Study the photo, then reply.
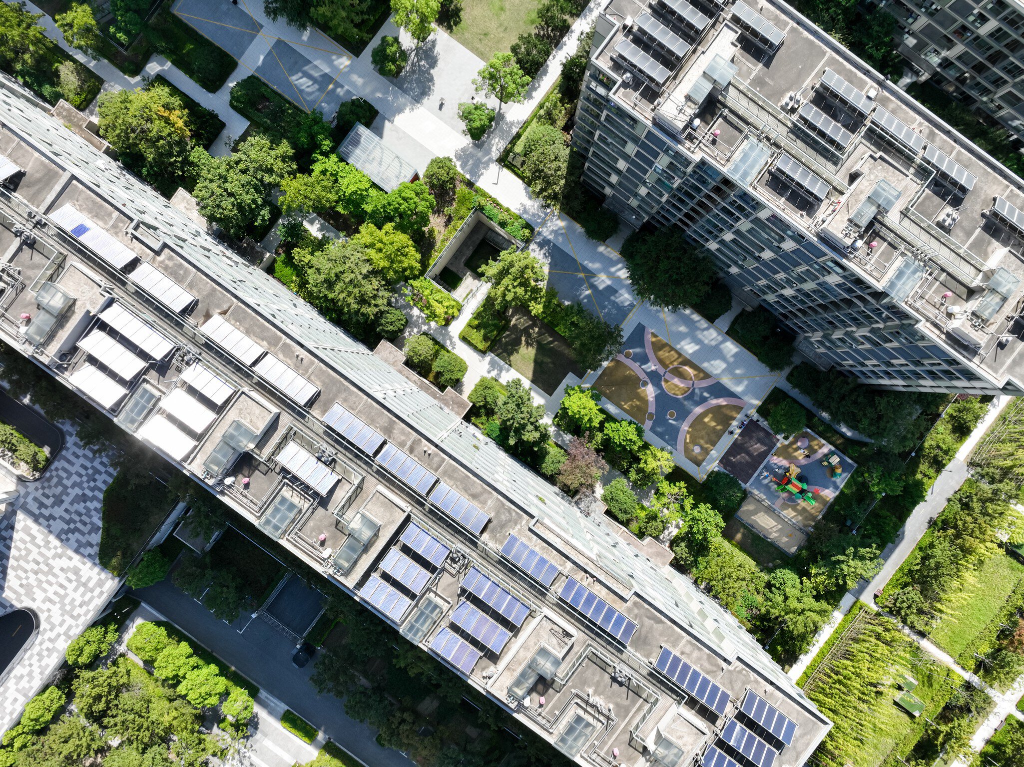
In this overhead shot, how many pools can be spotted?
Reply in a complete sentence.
The photo contains no pools.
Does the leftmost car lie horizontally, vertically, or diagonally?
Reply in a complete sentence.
The leftmost car is laid out diagonally.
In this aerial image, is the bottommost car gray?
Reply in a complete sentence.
No, the bottommost car is actually black.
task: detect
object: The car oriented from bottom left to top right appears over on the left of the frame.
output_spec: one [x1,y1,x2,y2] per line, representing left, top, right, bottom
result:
[291,642,316,672]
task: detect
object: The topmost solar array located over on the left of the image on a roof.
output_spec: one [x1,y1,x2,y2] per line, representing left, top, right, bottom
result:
[0,154,26,186]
